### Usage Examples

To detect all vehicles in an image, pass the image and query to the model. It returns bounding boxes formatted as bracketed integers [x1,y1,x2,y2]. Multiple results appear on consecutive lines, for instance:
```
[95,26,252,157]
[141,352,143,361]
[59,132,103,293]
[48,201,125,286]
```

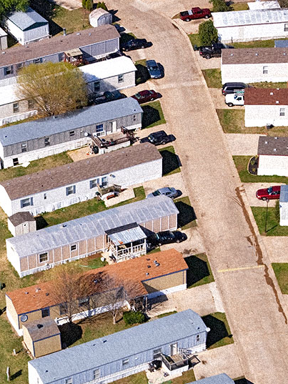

[146,59,162,81]
[132,90,164,106]
[255,186,279,202]
[137,129,176,145]
[119,39,153,52]
[150,231,190,250]
[144,188,183,201]
[195,41,236,60]
[221,93,244,111]
[218,79,255,98]
[114,22,136,35]
[175,8,214,25]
